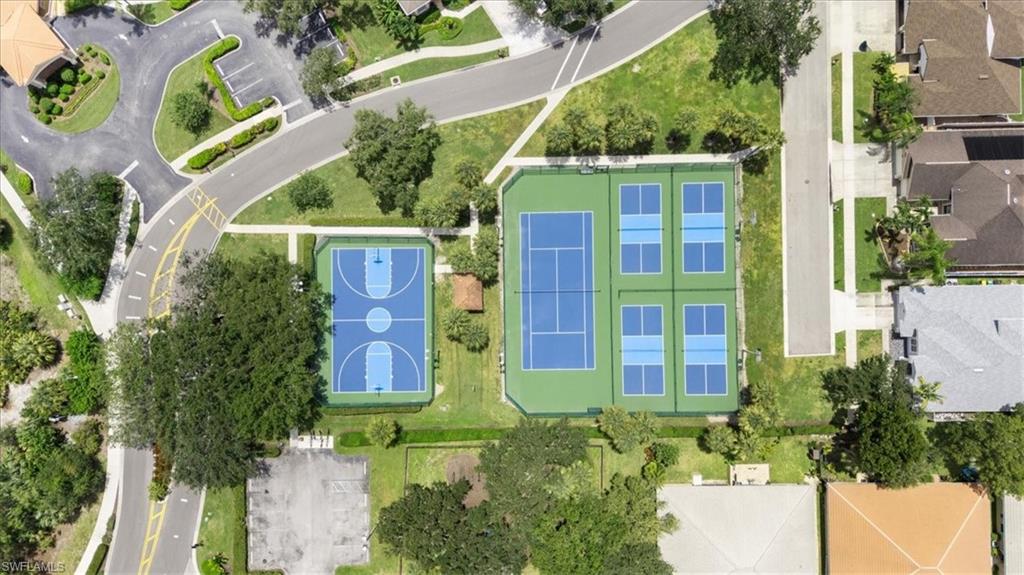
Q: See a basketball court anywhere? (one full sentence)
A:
Yes, I can see a basketball court in this picture.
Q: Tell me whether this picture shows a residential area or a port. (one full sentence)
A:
This image shows a residential area.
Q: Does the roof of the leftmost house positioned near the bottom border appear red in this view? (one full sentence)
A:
No, the roof of the leftmost house positioned near the bottom border is actually white.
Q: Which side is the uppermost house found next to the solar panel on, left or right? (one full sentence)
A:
The uppermost house found next to the solar panel is on the right side of the image.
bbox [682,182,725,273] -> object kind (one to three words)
sports court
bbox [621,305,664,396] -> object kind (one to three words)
sports court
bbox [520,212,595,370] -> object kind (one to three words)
tennis court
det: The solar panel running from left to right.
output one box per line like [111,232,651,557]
[963,134,1024,160]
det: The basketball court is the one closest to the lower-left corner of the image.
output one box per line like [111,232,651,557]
[316,239,434,404]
